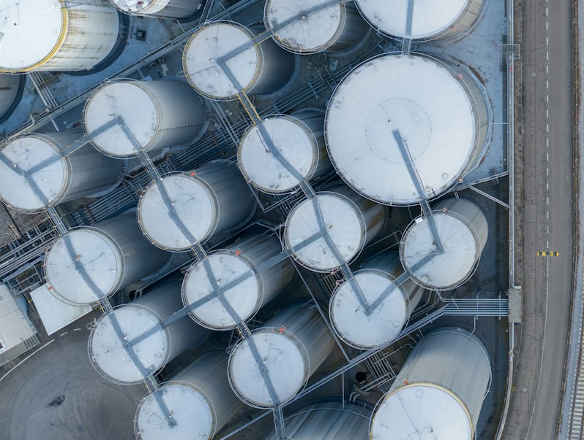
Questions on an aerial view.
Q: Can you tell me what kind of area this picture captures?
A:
industrial area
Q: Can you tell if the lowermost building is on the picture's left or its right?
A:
left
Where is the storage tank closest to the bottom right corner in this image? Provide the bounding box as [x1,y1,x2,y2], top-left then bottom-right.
[366,320,501,440]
